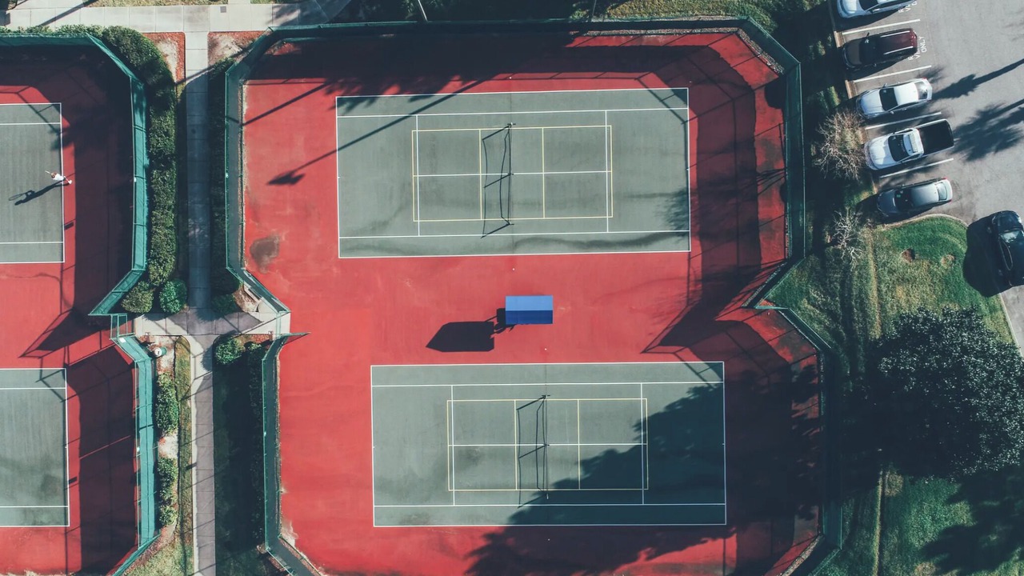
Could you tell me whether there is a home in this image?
No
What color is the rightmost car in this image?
black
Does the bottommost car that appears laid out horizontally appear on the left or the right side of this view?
right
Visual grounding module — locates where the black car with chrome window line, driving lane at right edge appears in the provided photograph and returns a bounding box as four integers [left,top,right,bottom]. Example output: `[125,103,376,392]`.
[991,209,1024,287]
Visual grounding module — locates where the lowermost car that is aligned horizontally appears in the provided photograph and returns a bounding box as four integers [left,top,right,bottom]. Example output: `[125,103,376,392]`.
[874,177,956,219]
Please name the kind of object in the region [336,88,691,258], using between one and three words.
tennis court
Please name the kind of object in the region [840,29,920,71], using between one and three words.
car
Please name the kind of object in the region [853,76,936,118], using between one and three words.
car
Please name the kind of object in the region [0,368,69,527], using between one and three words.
tennis court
